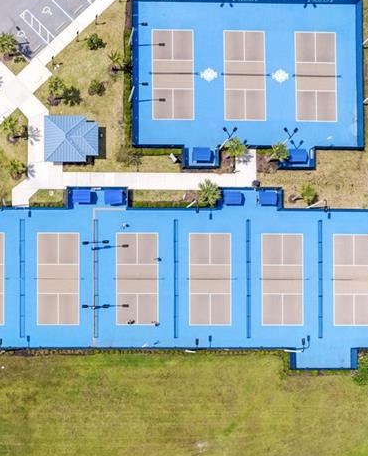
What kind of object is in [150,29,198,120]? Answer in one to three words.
sports court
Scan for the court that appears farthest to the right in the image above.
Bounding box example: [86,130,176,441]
[330,234,368,325]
